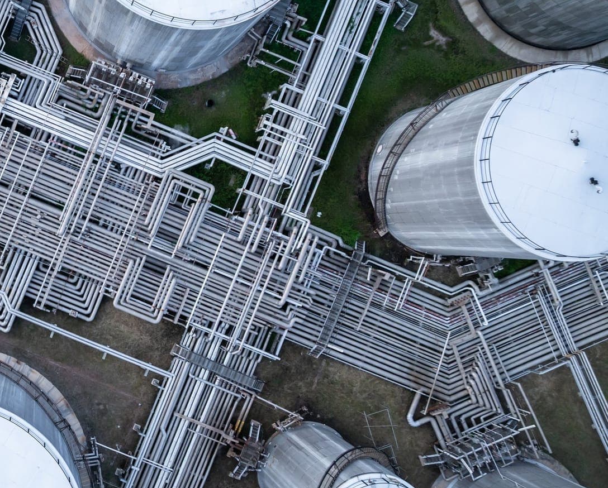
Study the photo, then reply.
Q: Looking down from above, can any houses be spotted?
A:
No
